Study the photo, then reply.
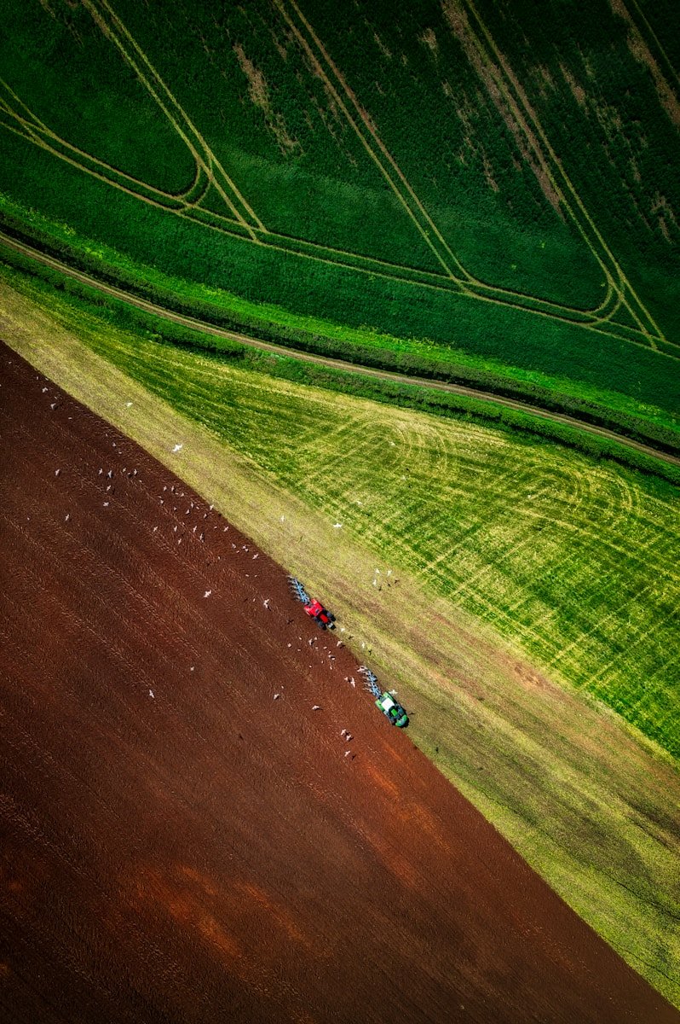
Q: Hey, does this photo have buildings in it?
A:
No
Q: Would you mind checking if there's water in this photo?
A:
No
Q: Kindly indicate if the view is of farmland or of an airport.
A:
farmland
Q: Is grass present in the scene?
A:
Yes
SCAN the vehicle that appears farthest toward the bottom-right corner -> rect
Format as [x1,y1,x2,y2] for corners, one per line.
[376,691,408,726]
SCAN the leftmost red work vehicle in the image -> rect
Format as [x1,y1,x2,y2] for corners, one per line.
[304,598,334,629]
